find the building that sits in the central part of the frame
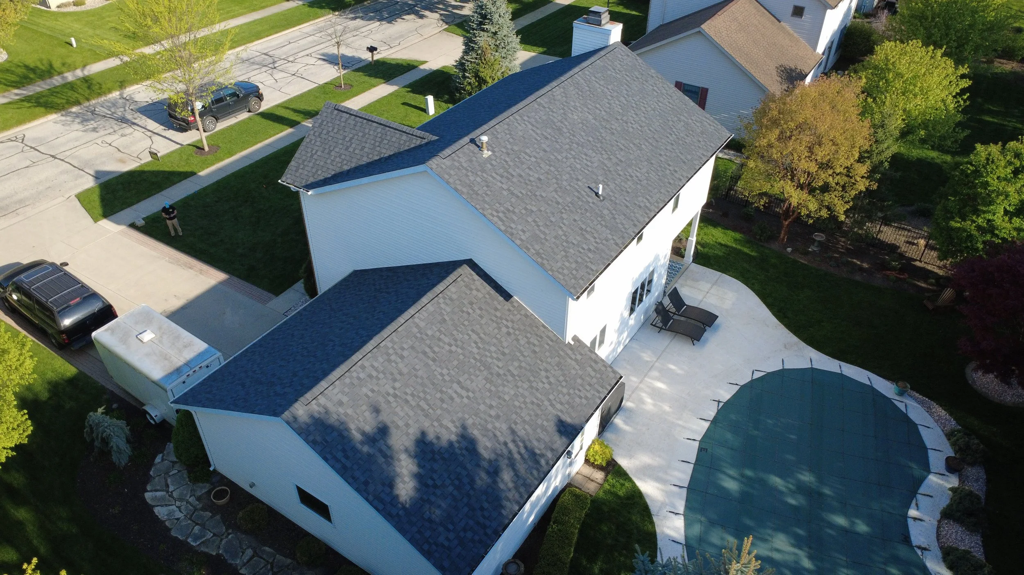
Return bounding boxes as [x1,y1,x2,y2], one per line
[166,8,734,575]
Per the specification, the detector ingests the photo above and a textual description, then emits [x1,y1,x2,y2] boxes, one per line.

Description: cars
[0,258,117,347]
[167,79,268,132]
